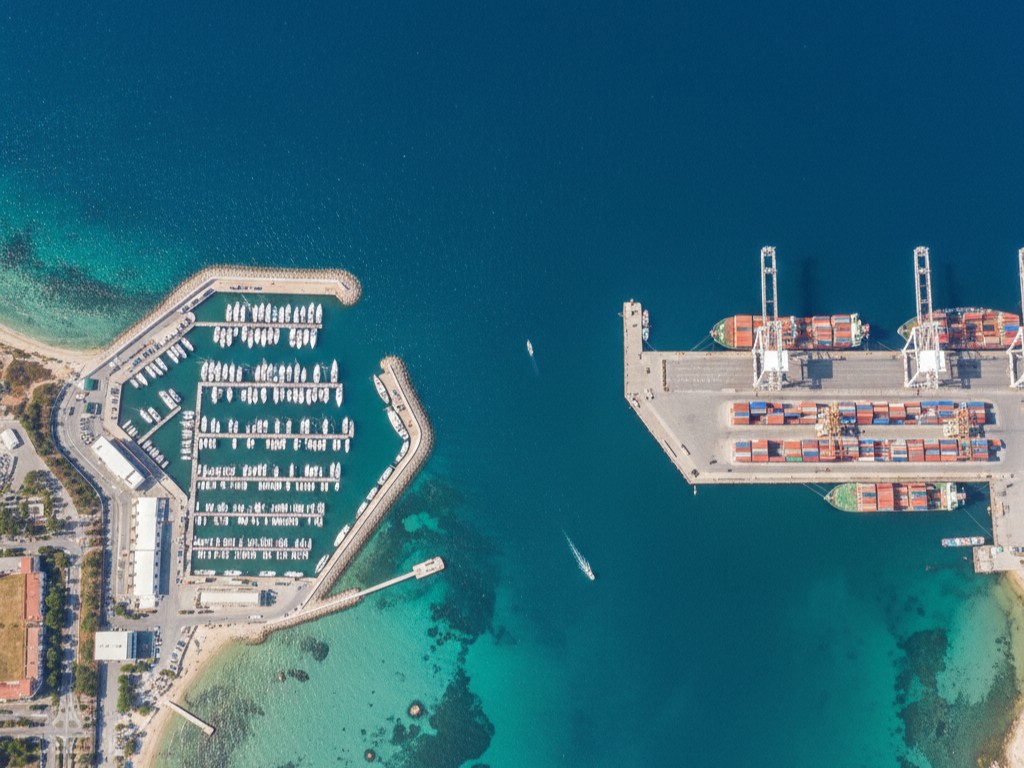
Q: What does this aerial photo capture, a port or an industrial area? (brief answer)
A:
port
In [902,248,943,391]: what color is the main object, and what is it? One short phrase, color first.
white container crane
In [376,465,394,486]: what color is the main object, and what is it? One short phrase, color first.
white boat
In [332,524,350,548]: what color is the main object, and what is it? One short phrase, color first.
white boat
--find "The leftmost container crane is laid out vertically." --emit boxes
[751,247,787,391]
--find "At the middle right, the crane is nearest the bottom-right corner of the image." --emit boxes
[942,400,973,469]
